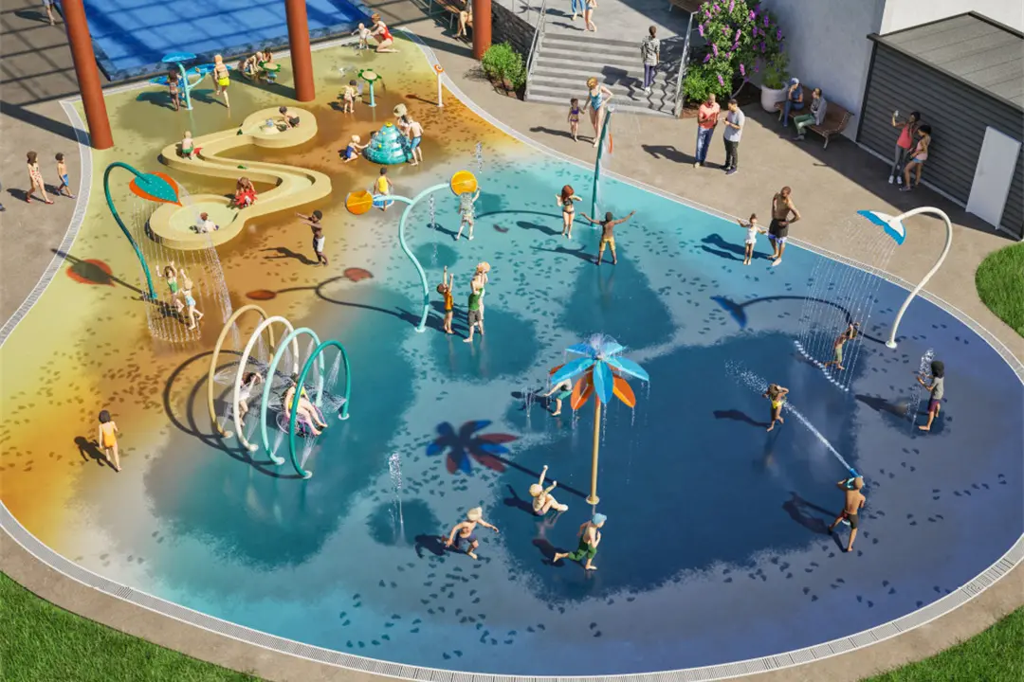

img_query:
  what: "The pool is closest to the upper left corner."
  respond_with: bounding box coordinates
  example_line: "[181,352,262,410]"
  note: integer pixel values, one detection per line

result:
[33,0,378,82]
